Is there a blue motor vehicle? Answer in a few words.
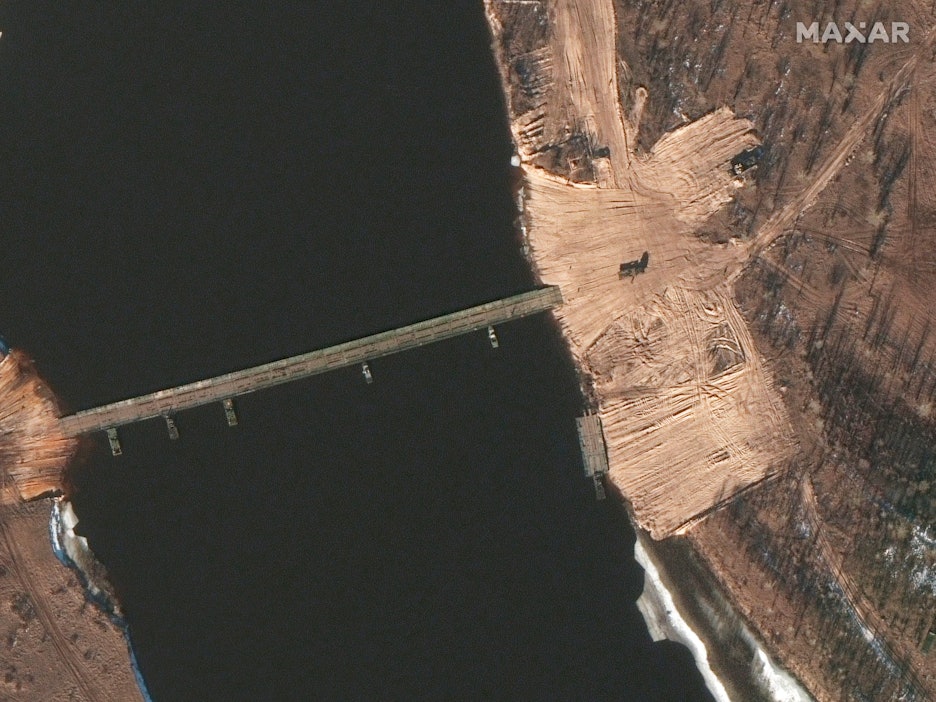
No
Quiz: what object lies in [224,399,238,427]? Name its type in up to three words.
boat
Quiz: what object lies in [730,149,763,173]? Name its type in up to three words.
truck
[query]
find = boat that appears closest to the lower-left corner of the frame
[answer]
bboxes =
[106,428,121,456]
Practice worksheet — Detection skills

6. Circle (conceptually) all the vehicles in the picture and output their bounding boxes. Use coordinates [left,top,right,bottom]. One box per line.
[596,152,610,158]
[730,149,763,173]
[617,265,645,282]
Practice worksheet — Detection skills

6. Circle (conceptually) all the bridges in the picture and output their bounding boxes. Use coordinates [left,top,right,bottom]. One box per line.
[56,284,569,437]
